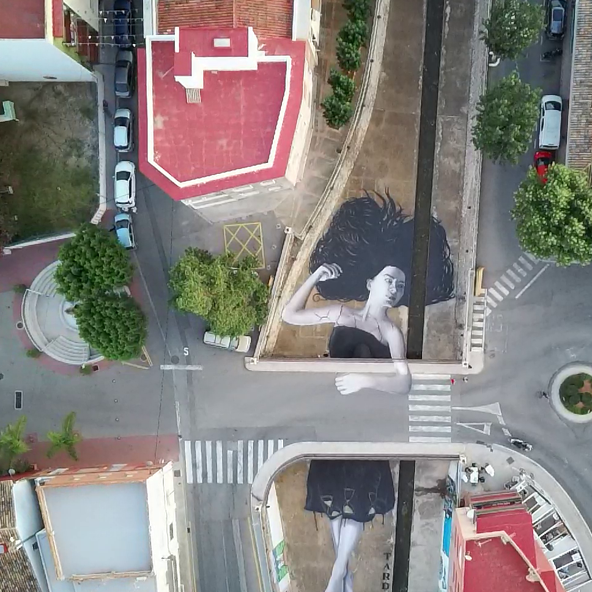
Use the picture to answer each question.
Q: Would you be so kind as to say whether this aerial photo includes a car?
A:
Yes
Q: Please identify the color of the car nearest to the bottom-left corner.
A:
white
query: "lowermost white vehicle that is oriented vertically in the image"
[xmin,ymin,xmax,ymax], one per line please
[112,162,137,211]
